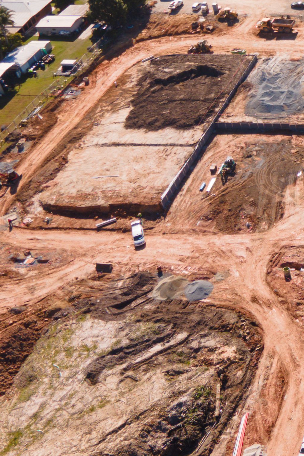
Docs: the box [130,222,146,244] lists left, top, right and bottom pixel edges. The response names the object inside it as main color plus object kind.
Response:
white car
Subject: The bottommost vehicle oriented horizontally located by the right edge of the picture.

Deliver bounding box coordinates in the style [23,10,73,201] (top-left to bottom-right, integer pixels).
[256,18,295,33]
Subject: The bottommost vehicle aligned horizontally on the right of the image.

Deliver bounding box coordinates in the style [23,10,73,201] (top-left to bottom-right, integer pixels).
[185,40,213,53]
